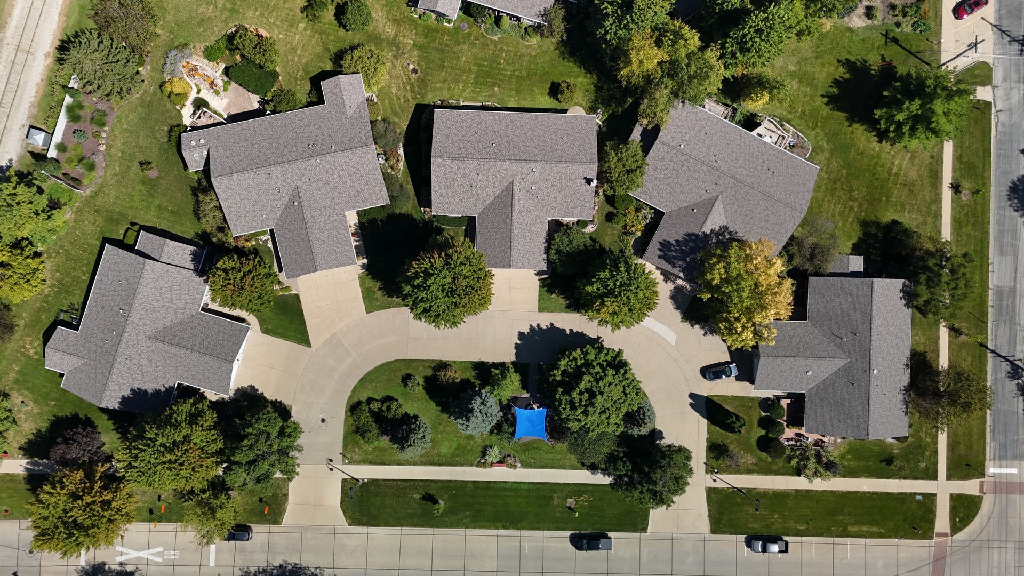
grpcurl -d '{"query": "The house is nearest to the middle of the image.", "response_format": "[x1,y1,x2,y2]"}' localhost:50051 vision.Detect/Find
[431,109,597,270]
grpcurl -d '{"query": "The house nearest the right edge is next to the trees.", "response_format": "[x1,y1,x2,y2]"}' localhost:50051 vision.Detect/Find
[750,255,913,439]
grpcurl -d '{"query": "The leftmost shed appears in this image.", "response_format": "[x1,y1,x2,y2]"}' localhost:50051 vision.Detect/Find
[22,127,49,149]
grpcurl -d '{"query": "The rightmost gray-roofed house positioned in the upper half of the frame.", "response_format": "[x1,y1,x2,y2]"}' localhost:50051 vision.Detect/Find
[627,103,819,290]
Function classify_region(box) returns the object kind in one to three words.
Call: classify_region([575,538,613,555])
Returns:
vehicle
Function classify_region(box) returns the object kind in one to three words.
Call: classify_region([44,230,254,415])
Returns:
house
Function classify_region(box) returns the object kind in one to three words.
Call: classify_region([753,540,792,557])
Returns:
vehicle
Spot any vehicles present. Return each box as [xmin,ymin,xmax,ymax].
[957,0,992,17]
[705,363,738,381]
[218,526,251,543]
[575,538,613,555]
[753,540,792,557]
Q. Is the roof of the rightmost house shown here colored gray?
Yes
